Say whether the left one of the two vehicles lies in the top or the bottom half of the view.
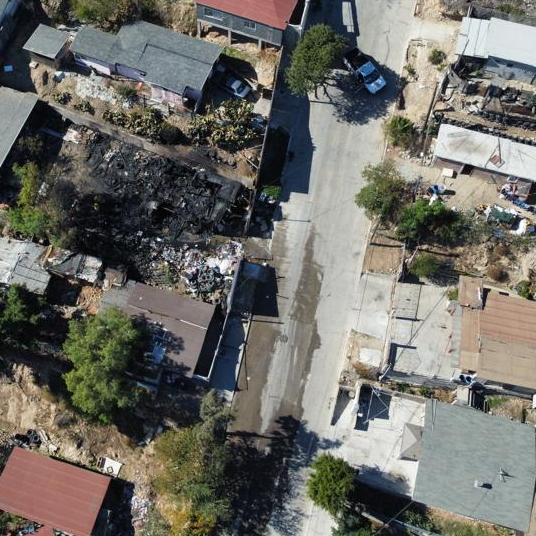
top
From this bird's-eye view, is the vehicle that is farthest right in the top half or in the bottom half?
top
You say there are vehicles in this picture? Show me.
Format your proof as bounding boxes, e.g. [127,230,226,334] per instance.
[344,47,388,94]
[212,60,258,103]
